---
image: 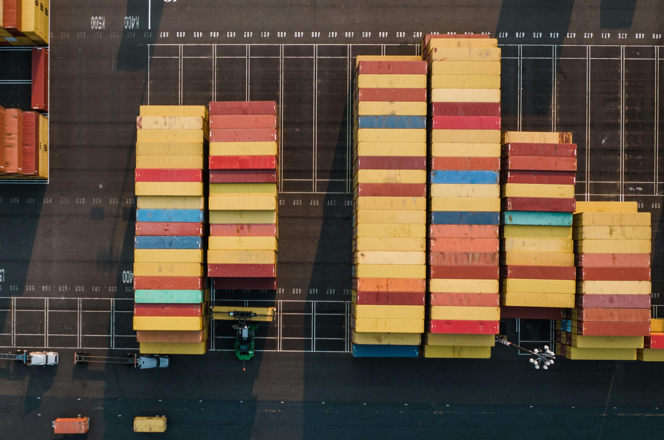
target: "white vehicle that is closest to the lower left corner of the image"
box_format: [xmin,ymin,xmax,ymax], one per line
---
[18,350,62,367]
